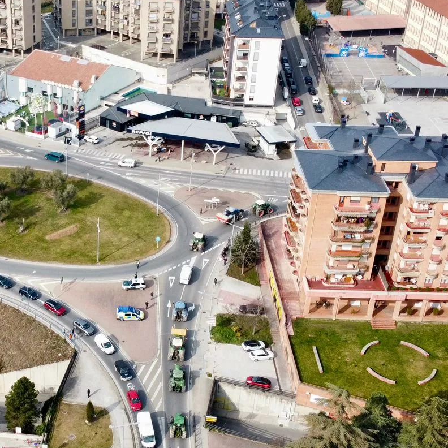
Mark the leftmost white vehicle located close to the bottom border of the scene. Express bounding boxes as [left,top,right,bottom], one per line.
[139,408,156,446]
